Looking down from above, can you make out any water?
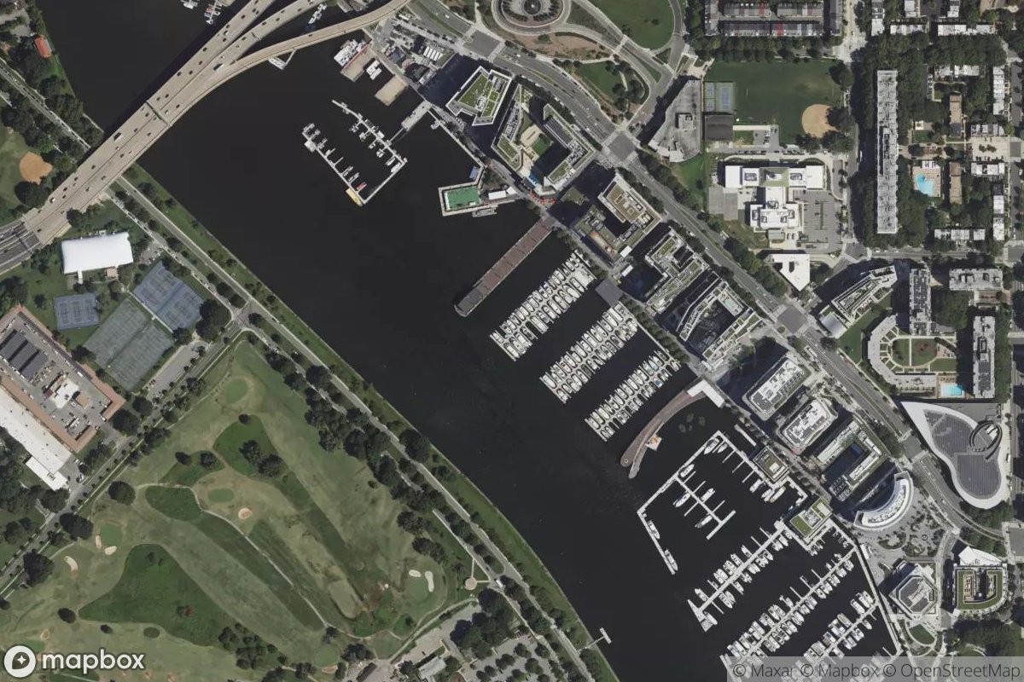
Yes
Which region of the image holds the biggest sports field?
top right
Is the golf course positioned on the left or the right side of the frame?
left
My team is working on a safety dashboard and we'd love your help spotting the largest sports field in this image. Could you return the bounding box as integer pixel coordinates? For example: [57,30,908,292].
[703,53,846,145]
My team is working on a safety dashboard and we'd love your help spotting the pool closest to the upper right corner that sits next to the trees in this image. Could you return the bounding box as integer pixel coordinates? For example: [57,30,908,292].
[912,167,940,197]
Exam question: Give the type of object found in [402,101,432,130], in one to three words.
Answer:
pier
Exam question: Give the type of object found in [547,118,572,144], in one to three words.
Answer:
solar array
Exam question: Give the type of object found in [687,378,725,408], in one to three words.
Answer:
building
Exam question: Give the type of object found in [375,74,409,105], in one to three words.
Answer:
ship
